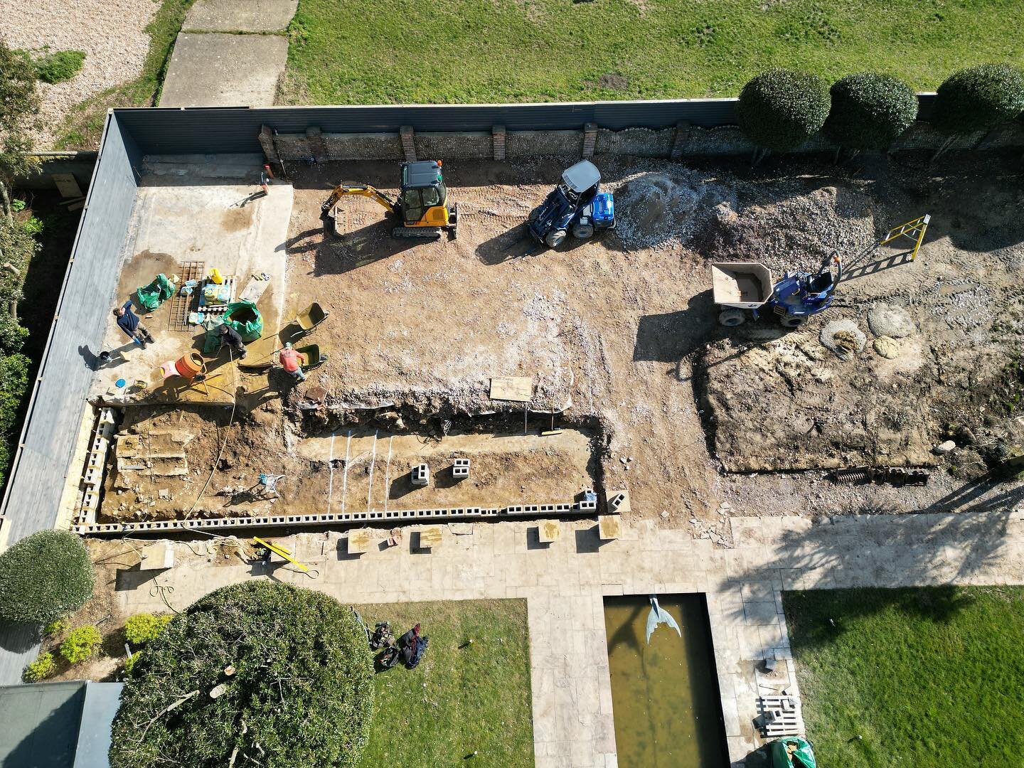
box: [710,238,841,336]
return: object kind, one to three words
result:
truck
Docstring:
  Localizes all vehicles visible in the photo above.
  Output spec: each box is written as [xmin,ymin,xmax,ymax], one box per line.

[710,238,841,336]
[499,154,619,270]
[326,157,465,239]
